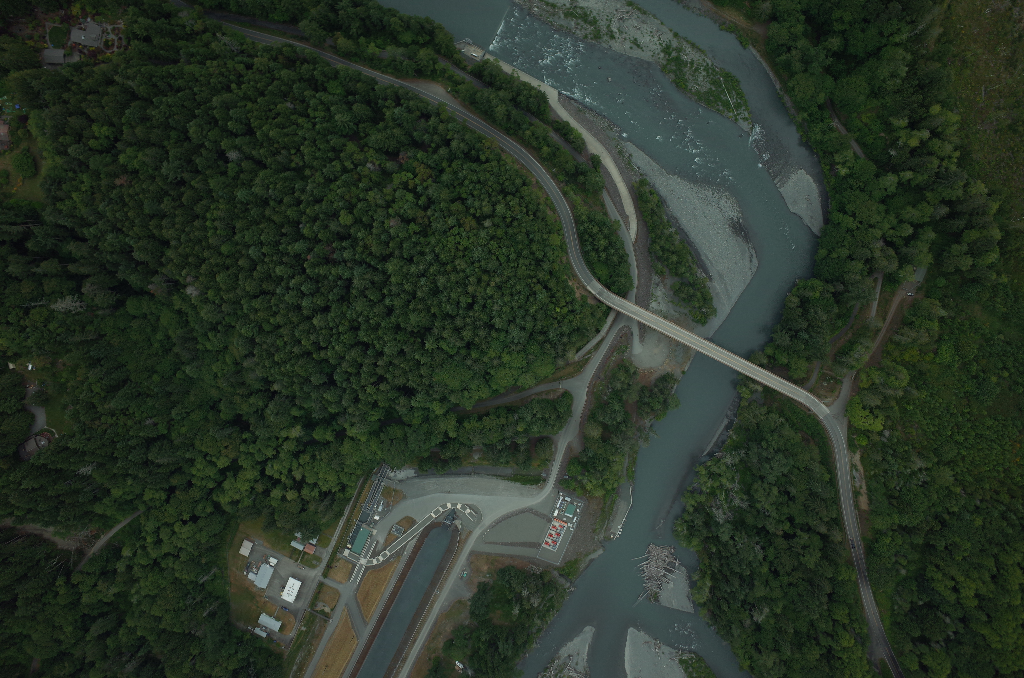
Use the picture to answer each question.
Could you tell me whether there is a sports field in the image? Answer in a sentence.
No, the photo shows no sports field.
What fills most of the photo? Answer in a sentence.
What you mostly see from above here is trees.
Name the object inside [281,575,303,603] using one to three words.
building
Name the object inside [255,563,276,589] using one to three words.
building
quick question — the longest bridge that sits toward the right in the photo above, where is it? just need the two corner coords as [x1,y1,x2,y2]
[587,279,830,419]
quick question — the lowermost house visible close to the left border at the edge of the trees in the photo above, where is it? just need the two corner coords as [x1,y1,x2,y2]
[25,436,51,455]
